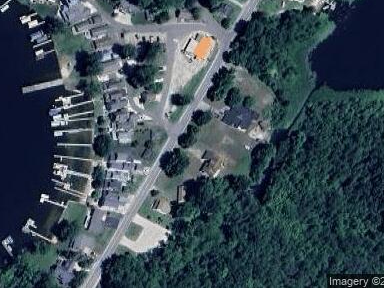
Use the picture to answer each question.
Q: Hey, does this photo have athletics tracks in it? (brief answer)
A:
No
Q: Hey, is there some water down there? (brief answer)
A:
Yes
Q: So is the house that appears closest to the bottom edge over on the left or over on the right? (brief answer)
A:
left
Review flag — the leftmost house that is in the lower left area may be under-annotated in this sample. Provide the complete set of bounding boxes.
[56,260,77,288]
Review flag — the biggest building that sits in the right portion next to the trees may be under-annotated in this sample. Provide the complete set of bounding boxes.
[224,106,260,130]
